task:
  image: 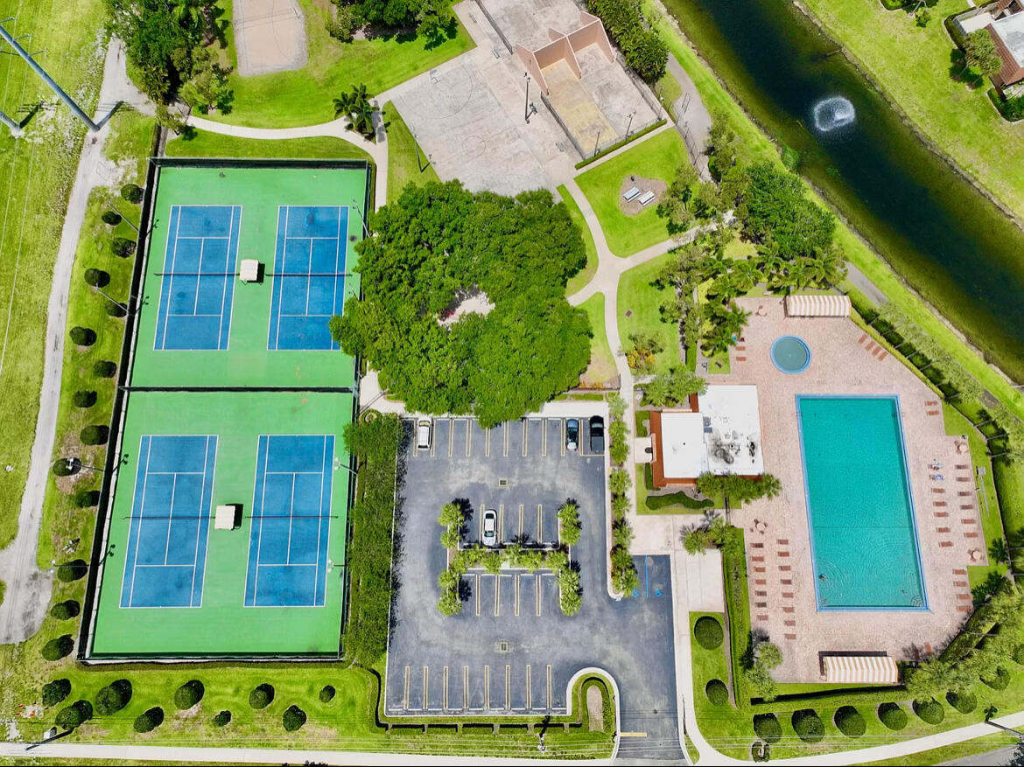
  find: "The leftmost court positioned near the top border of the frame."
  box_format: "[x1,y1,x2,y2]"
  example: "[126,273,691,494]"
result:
[230,0,307,77]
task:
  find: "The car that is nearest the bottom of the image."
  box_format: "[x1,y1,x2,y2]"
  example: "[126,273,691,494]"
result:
[482,511,497,545]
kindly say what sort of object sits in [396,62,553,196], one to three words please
basketball court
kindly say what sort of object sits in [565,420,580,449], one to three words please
car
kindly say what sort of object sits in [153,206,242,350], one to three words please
tennis court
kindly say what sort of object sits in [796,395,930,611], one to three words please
swimming pool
